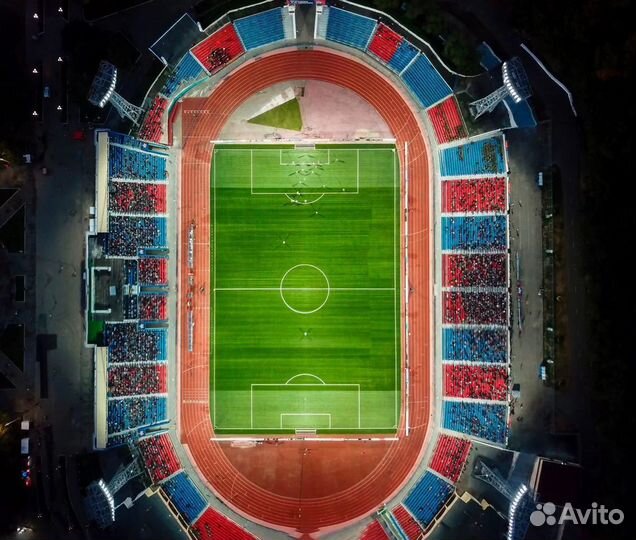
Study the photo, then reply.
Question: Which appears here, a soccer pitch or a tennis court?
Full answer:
Visible in the photo is a soccer pitch.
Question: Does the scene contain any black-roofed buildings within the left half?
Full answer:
Yes, within the left half there is a black-roofed building.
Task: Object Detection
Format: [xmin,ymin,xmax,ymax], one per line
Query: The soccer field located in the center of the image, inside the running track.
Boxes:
[210,144,400,434]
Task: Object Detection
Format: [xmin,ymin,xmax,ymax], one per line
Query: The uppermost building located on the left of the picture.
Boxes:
[149,12,206,71]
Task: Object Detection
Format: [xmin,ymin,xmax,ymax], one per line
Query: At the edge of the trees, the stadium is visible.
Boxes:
[85,4,514,540]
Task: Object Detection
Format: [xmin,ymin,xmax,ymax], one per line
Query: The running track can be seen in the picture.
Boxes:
[176,45,434,540]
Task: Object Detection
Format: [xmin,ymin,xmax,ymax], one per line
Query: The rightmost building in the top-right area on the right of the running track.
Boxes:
[504,96,537,129]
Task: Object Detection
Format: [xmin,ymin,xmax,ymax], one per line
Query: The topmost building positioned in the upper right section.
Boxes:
[477,40,502,74]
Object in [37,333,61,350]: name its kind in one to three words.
building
